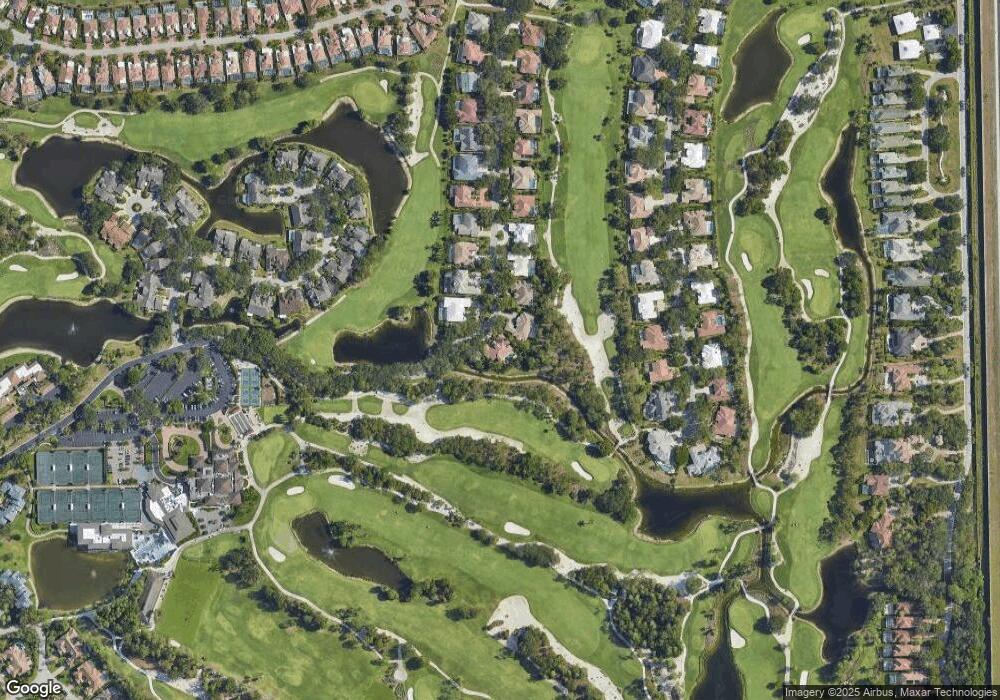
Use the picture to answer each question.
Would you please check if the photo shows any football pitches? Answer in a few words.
No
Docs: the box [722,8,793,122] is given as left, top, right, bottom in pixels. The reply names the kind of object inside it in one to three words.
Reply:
pond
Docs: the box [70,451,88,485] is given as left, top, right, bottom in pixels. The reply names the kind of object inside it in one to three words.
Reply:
tennis court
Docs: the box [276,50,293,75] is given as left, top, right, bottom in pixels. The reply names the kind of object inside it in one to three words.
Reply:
house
